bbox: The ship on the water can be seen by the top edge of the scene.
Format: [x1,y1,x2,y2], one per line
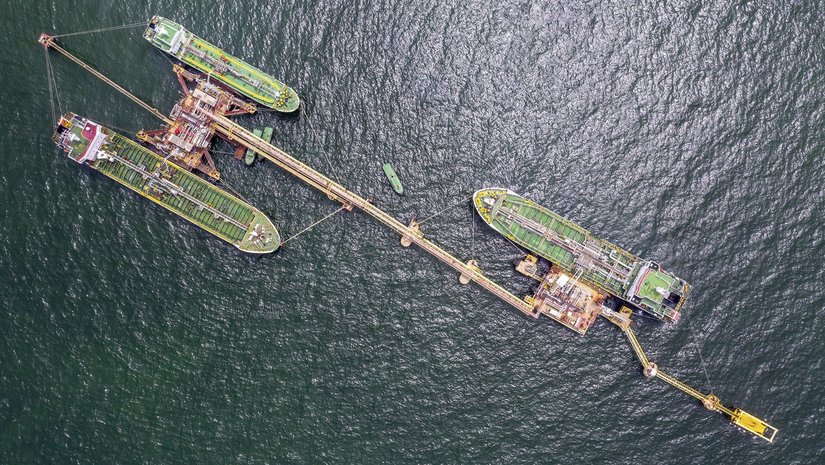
[144,14,298,112]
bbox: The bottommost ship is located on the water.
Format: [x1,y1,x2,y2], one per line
[474,189,693,319]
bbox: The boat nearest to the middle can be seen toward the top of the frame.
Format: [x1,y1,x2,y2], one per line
[383,162,403,193]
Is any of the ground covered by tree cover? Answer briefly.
No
